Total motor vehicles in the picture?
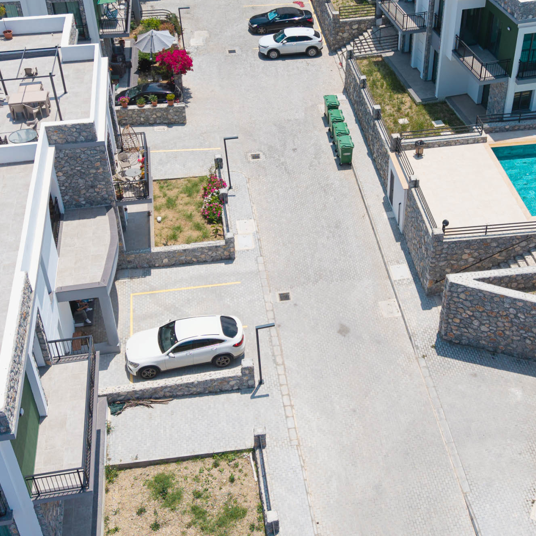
4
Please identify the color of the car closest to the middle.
white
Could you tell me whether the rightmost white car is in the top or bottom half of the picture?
top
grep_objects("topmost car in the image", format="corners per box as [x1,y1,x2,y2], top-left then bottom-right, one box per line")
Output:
[247,7,314,34]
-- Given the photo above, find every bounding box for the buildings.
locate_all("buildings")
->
[0,14,155,536]
[361,0,536,143]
